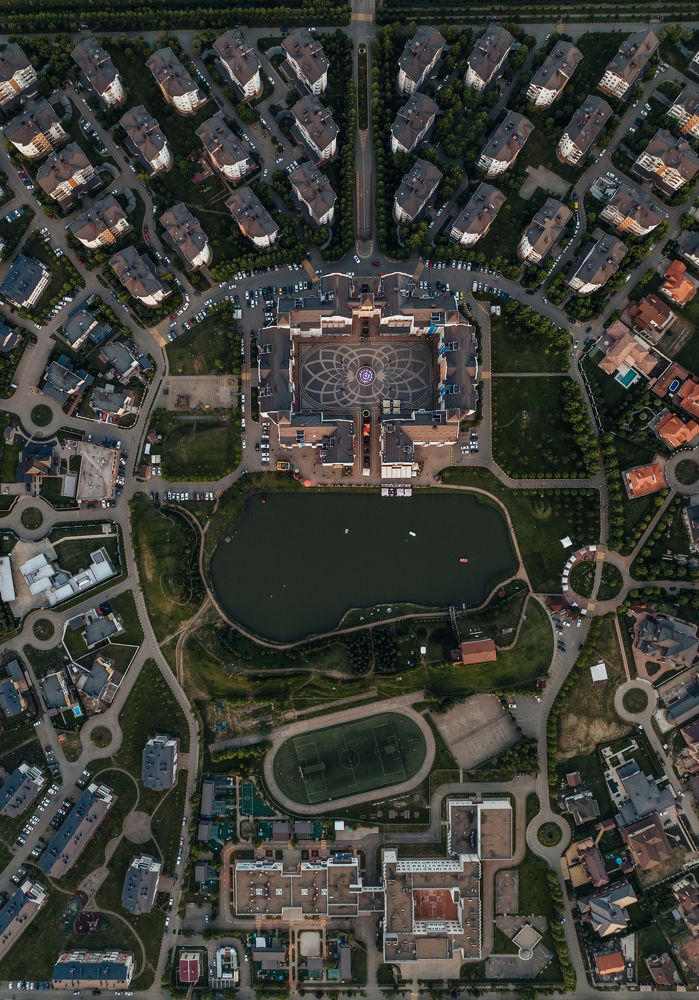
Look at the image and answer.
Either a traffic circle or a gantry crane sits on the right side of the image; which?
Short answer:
traffic circle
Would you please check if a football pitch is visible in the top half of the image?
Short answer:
No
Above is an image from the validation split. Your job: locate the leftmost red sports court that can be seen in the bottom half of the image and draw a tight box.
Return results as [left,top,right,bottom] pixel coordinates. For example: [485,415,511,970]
[414,889,460,923]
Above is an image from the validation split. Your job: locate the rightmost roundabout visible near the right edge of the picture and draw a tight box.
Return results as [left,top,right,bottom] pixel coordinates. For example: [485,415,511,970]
[666,449,699,494]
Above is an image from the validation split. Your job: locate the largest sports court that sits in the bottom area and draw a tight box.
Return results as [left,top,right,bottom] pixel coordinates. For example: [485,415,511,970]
[431,693,523,770]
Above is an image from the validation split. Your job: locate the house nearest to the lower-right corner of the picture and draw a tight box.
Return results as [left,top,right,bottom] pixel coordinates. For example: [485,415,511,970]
[645,948,679,989]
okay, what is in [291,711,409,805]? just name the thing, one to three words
soccer field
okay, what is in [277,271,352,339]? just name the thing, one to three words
building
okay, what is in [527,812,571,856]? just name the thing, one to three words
roundabout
